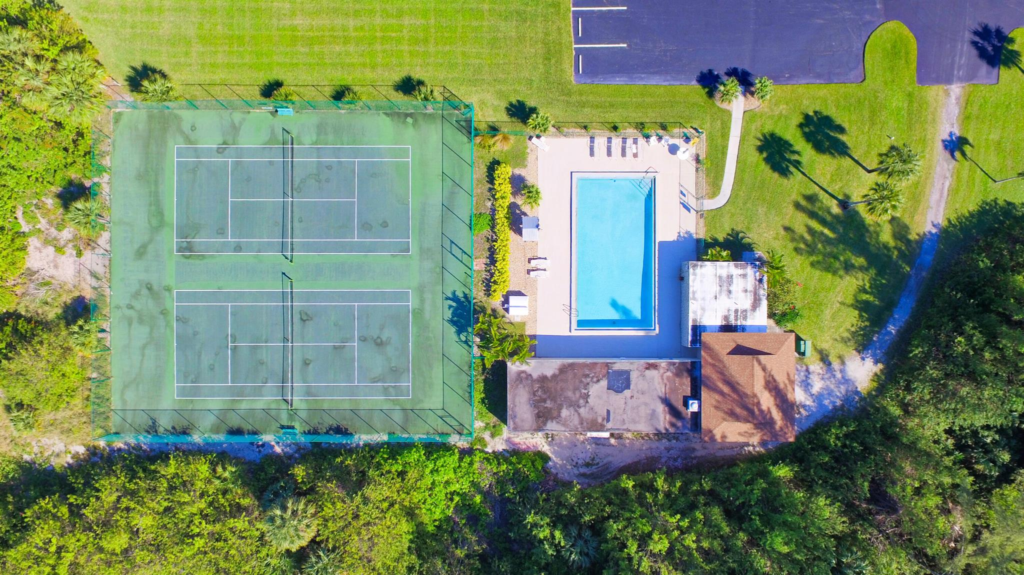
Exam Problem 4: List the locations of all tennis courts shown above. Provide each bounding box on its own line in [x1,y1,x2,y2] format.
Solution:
[174,145,411,254]
[174,289,411,399]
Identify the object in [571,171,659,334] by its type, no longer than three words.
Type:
swimming pool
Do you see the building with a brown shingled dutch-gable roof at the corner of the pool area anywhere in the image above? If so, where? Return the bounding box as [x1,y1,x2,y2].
[695,333,796,442]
